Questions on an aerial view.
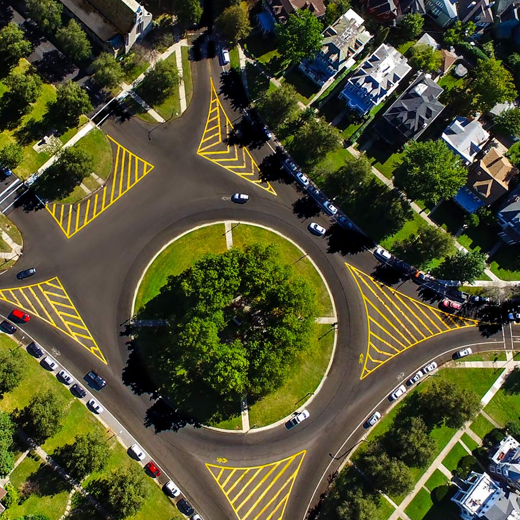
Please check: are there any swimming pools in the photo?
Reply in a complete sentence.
No, there isn't any swimming pool down there.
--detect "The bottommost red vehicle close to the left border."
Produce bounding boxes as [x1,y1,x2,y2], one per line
[10,308,31,322]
